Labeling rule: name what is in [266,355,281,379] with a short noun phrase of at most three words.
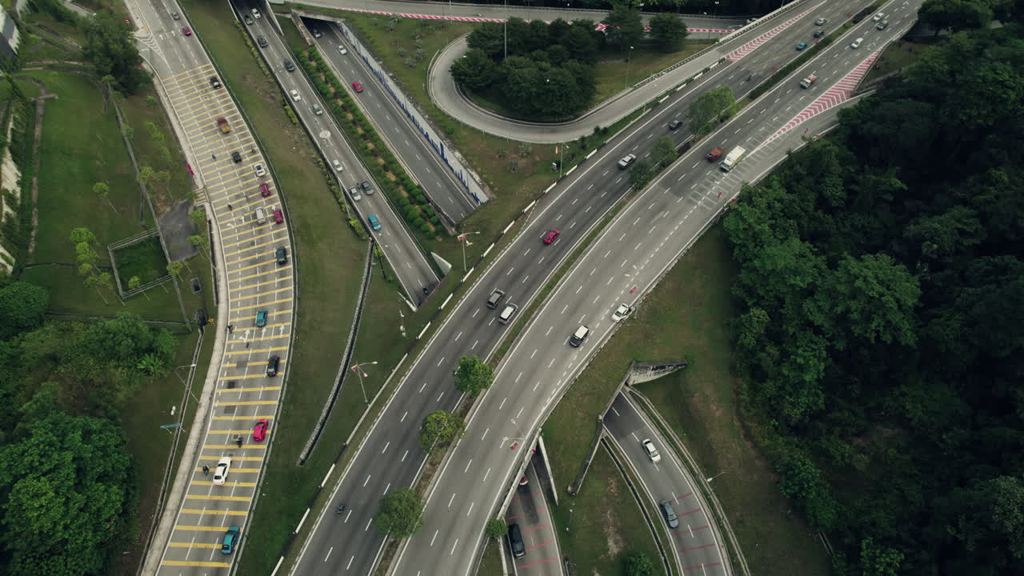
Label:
car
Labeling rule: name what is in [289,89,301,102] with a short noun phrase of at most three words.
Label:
vehicle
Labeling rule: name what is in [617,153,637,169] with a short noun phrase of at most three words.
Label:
vehicle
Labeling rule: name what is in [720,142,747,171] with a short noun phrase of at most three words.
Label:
truck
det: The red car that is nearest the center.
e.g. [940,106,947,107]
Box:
[542,228,561,245]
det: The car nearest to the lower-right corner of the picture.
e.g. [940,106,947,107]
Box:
[660,498,679,529]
